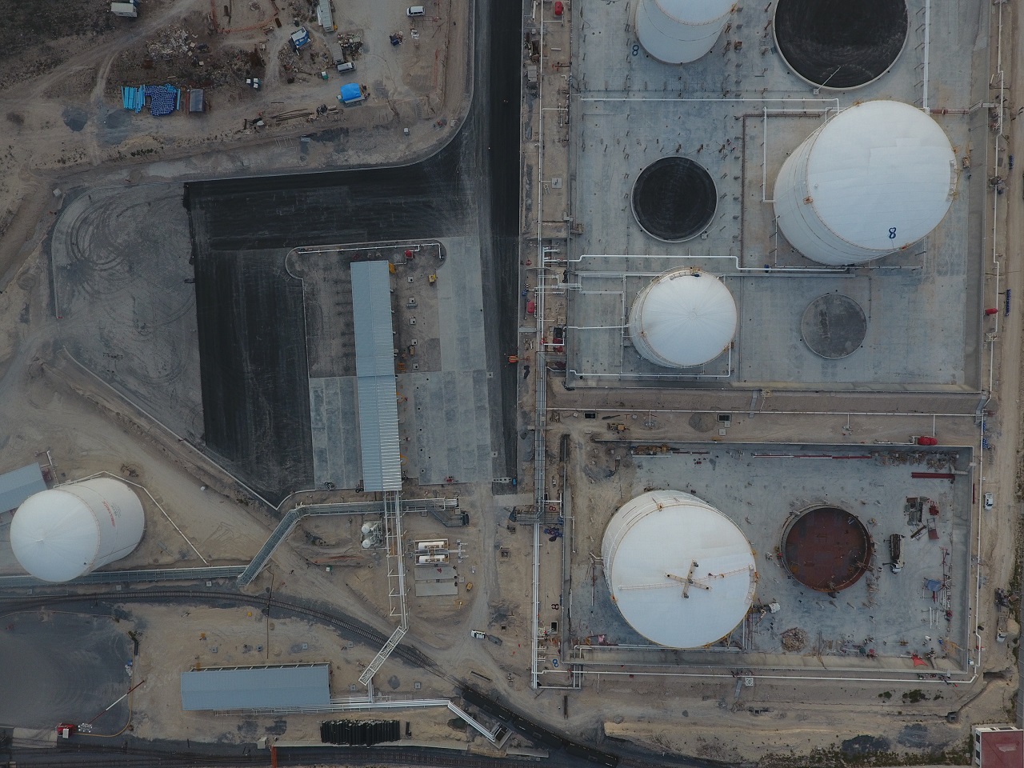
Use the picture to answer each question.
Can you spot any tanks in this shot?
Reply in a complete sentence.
Yes, the photo shows a tank.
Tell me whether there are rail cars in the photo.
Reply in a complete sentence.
Yes, the picture does show a rail car.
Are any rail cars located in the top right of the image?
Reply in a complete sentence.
No, in the top right of the image there is no rail car.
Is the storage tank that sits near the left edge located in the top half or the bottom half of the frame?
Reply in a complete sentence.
You can find the storage tank that sits near the left edge in the bottom half.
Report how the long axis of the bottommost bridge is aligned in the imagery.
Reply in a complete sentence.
The bottommost bridge runs diagonally in the image.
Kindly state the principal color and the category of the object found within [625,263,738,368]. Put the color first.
white storage tank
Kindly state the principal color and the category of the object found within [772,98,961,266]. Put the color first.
white storage tank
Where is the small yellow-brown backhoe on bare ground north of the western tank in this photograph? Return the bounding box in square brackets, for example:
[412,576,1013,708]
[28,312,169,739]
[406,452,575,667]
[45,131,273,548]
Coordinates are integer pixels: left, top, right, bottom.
[118,463,141,483]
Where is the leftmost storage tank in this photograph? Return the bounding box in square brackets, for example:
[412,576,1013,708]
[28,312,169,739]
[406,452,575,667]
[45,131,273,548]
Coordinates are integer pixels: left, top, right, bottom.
[6,477,148,582]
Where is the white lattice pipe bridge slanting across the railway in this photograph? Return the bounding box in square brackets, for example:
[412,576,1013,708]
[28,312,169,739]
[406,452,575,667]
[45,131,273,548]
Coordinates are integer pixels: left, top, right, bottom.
[359,620,412,686]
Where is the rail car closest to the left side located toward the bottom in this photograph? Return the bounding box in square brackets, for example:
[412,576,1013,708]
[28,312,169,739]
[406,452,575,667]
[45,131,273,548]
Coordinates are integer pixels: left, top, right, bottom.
[460,686,513,729]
